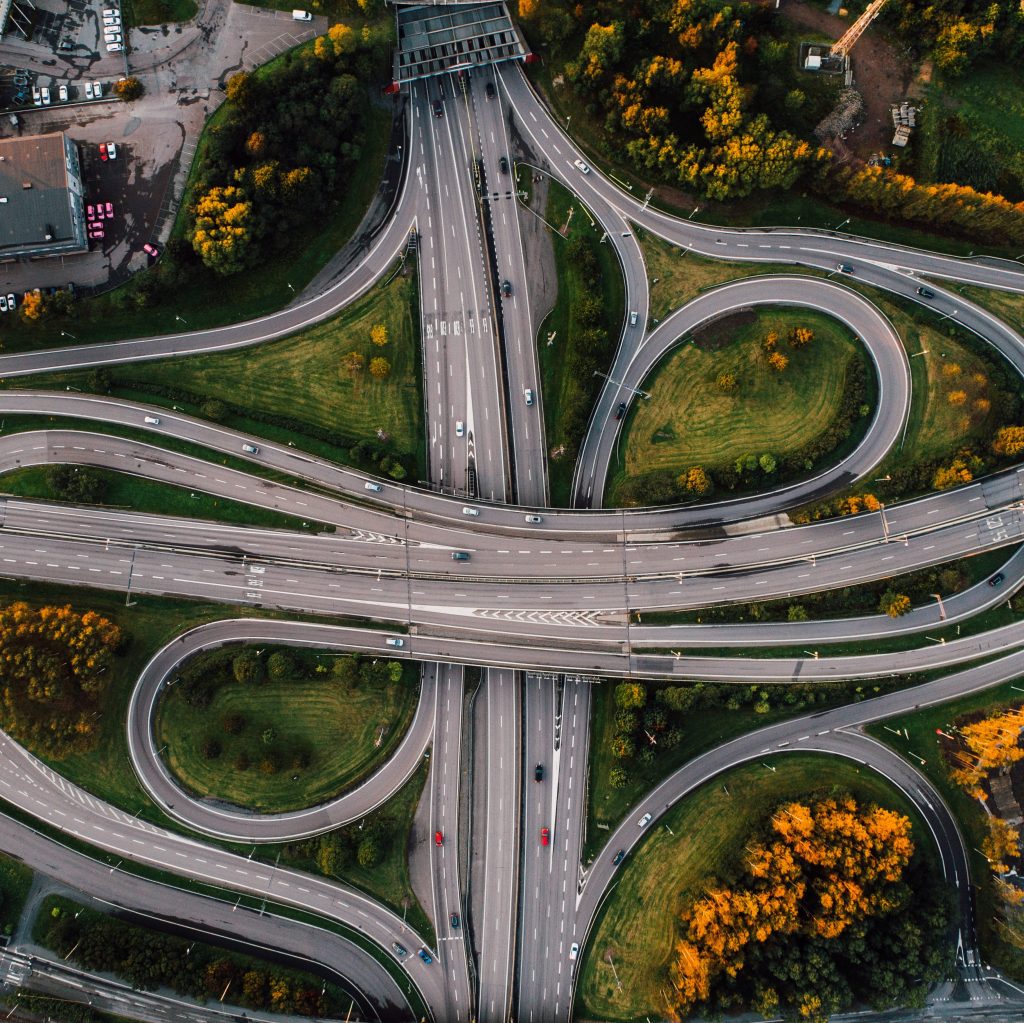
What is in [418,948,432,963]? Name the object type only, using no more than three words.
car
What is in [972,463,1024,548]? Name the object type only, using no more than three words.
bridge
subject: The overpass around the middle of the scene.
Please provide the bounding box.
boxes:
[404,484,634,678]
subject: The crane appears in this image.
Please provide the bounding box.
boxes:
[834,0,892,66]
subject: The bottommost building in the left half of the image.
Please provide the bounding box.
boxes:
[0,130,88,255]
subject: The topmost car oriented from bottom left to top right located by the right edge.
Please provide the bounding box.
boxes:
[987,573,1004,586]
